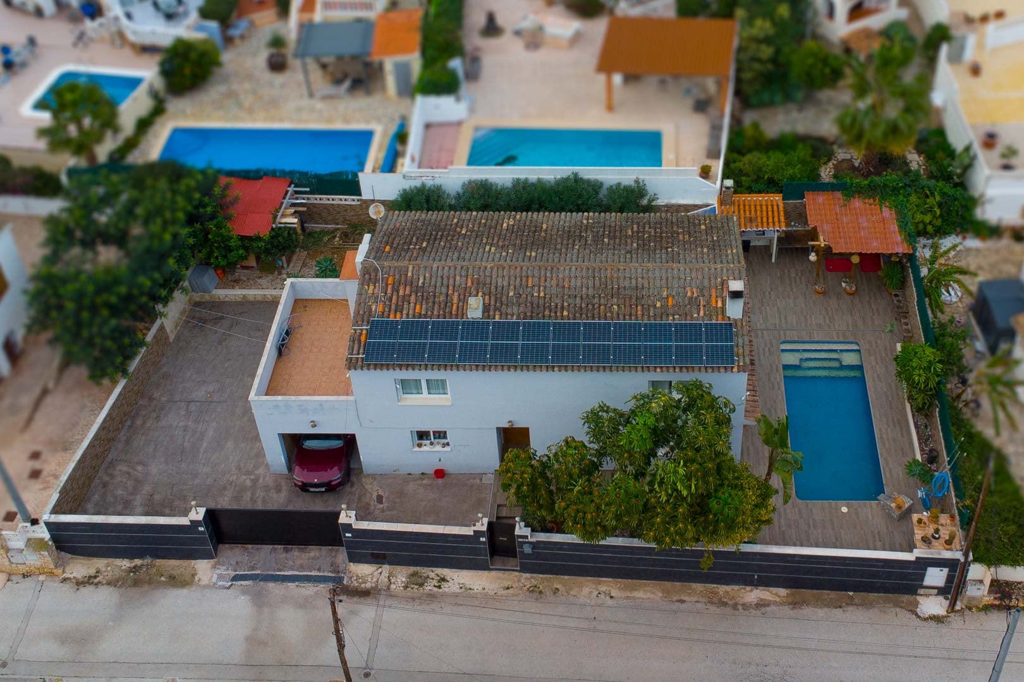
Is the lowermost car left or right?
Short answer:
left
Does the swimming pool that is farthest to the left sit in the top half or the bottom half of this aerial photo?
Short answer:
top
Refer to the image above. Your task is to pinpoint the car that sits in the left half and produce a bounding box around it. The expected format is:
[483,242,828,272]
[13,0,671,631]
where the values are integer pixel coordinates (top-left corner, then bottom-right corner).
[288,433,351,493]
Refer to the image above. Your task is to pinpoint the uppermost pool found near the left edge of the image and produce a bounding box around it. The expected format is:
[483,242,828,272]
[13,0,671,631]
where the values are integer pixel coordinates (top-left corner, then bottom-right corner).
[27,70,139,111]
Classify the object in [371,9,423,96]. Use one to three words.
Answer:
shed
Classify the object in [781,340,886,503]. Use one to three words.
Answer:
swimming pool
